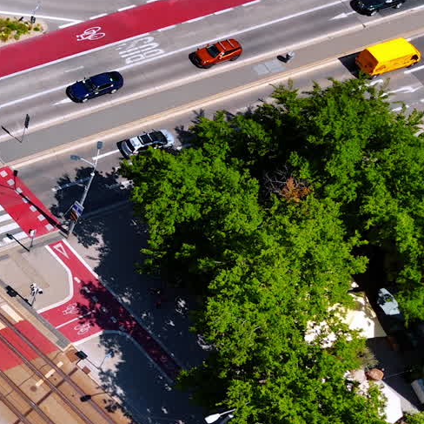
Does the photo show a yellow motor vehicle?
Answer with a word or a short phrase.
Yes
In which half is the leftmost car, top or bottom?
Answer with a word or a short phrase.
top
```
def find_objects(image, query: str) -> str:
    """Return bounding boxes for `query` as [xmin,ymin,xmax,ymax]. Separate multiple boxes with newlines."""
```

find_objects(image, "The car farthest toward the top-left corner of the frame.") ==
[68,70,125,102]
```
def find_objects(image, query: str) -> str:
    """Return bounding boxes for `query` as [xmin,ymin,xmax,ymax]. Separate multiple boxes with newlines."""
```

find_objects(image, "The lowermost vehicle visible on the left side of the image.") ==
[121,125,178,158]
